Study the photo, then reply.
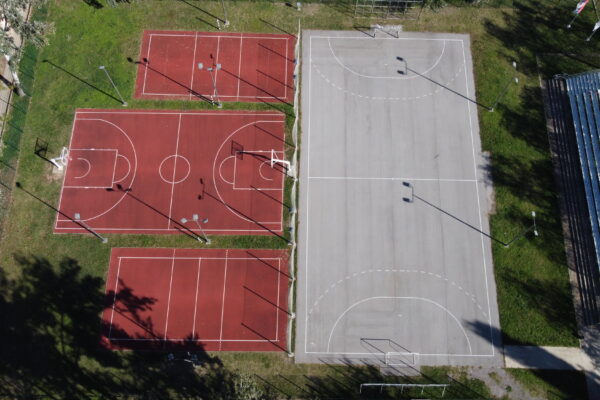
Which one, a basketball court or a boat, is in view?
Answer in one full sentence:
The one in the frame is a basketball court.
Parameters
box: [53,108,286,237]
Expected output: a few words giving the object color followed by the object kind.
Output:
red basketball court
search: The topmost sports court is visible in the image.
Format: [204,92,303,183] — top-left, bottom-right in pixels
[134,31,296,102]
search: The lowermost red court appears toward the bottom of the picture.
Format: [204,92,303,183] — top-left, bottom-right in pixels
[98,247,291,352]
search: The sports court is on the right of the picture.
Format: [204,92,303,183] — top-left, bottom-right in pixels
[295,30,506,377]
